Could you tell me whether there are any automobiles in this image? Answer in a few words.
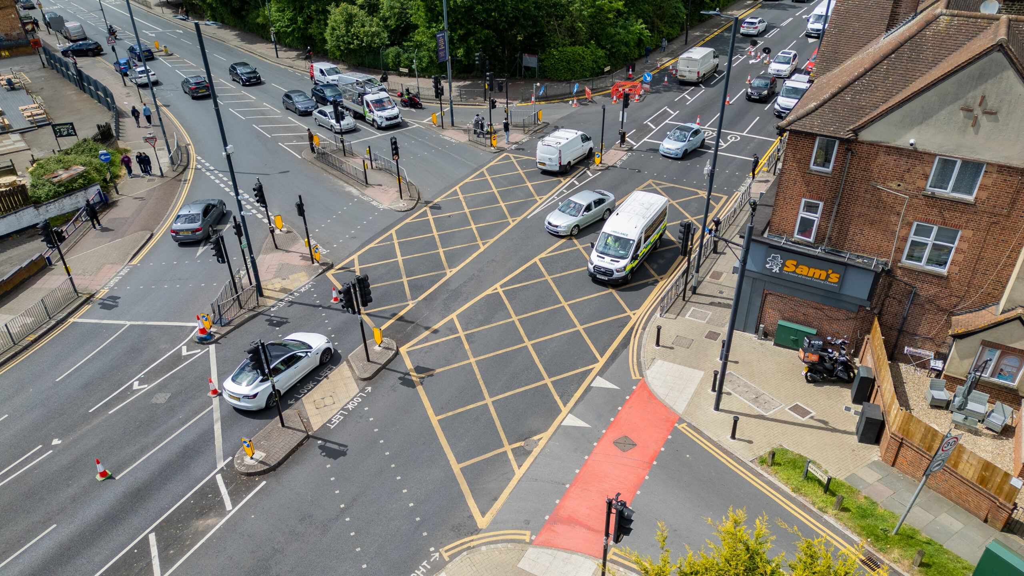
Yes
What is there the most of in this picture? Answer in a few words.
paved ground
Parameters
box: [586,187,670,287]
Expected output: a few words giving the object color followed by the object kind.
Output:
white van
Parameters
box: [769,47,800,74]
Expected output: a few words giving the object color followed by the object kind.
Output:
white car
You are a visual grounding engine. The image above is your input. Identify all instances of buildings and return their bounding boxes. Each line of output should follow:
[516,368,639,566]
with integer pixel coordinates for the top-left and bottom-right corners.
[0,0,38,63]
[728,0,1024,372]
